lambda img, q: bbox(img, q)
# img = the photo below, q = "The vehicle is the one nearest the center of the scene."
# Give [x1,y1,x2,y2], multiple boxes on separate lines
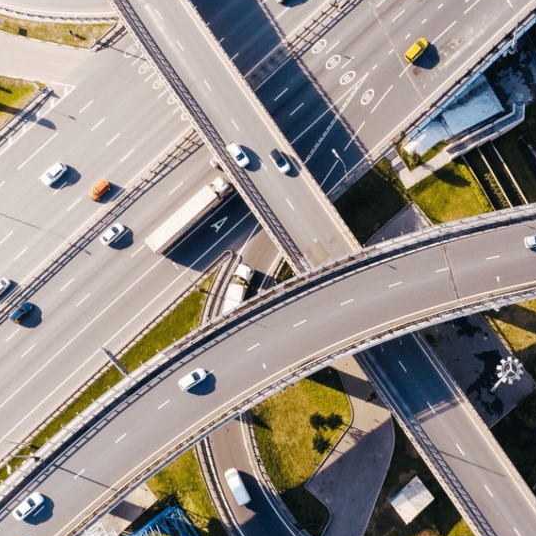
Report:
[215,263,251,311]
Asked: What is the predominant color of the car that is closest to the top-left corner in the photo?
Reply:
white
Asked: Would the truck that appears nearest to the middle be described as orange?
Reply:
No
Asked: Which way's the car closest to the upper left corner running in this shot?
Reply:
on a diagonal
